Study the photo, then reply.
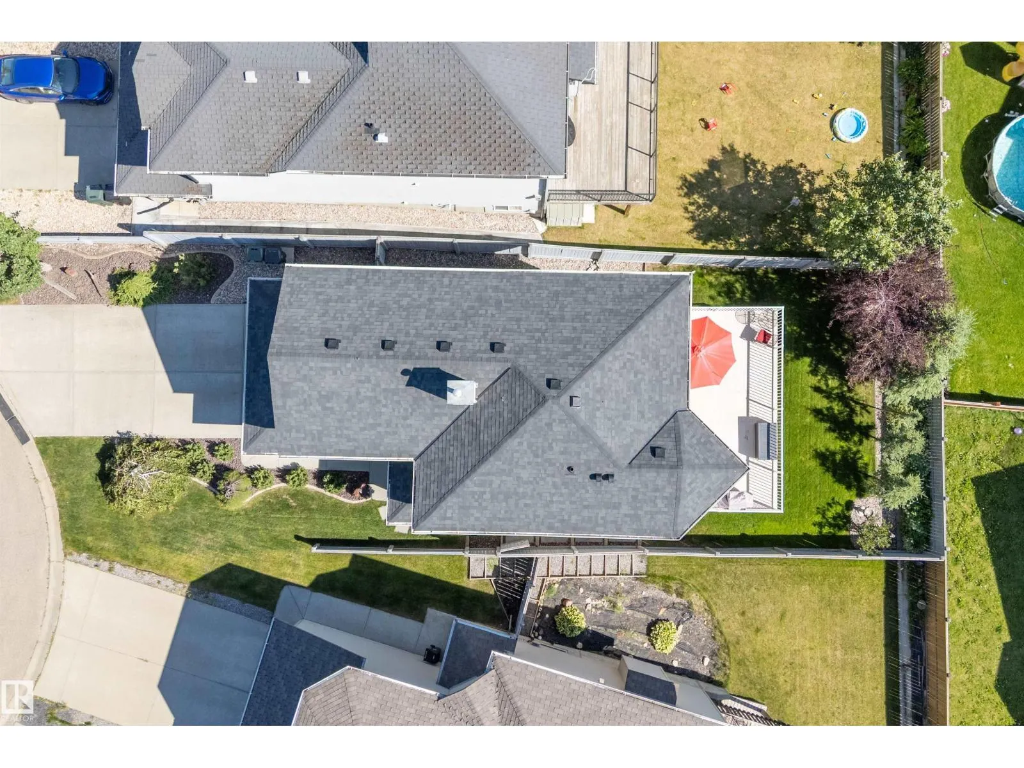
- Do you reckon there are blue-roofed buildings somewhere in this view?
No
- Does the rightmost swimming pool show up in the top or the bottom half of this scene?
top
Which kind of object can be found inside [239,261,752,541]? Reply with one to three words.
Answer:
house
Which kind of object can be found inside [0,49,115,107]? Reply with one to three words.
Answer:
car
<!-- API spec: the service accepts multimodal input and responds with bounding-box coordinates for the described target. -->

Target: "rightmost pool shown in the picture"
[971,115,1024,241]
